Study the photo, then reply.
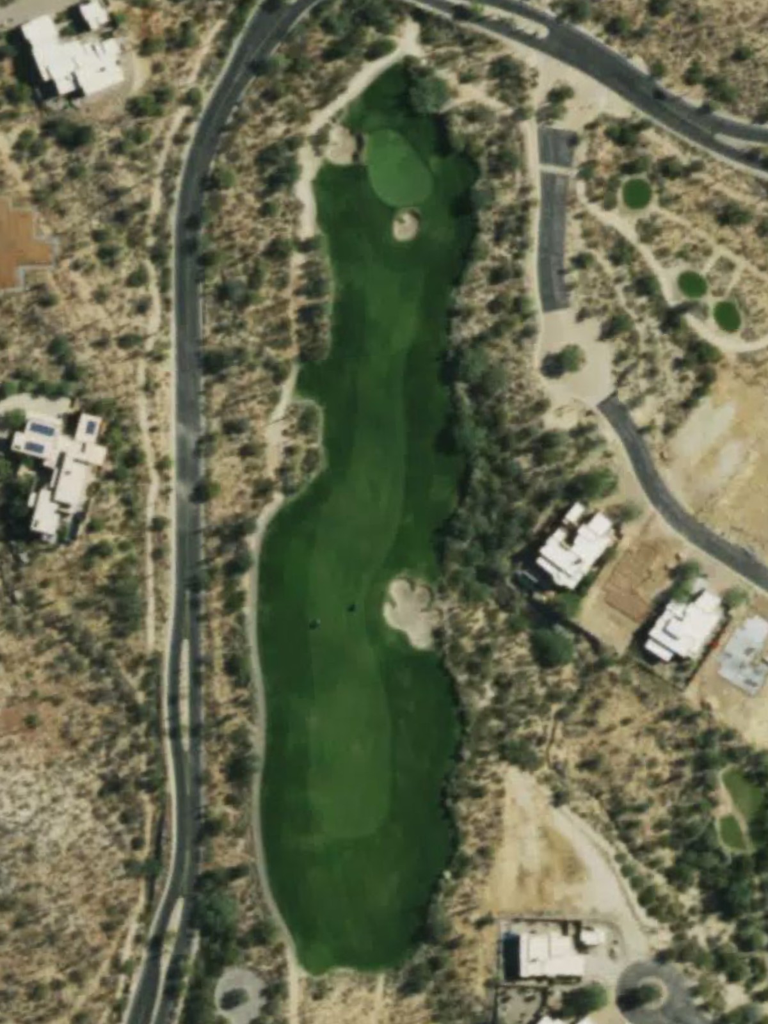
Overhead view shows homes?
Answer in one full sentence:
Yes, a home can be made out from above.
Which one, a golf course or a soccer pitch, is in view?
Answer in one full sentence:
The one in the frame is a golf course.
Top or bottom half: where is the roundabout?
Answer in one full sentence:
Seen from above, the roundabout lies in the bottom half of the view.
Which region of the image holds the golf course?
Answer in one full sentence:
The golf course is located in the center region of the scene.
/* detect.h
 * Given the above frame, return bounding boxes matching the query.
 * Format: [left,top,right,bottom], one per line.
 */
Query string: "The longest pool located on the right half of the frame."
[502,929,519,981]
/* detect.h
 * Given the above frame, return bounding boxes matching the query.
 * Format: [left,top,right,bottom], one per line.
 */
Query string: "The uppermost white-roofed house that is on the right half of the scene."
[536,502,618,592]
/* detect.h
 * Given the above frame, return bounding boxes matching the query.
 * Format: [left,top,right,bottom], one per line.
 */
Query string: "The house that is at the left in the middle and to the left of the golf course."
[10,412,108,543]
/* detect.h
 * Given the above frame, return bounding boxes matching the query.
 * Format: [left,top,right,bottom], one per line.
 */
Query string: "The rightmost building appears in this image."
[645,587,730,662]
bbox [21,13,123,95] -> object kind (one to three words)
house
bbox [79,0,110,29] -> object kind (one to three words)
house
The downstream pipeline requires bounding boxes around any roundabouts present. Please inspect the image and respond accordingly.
[615,959,713,1024]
